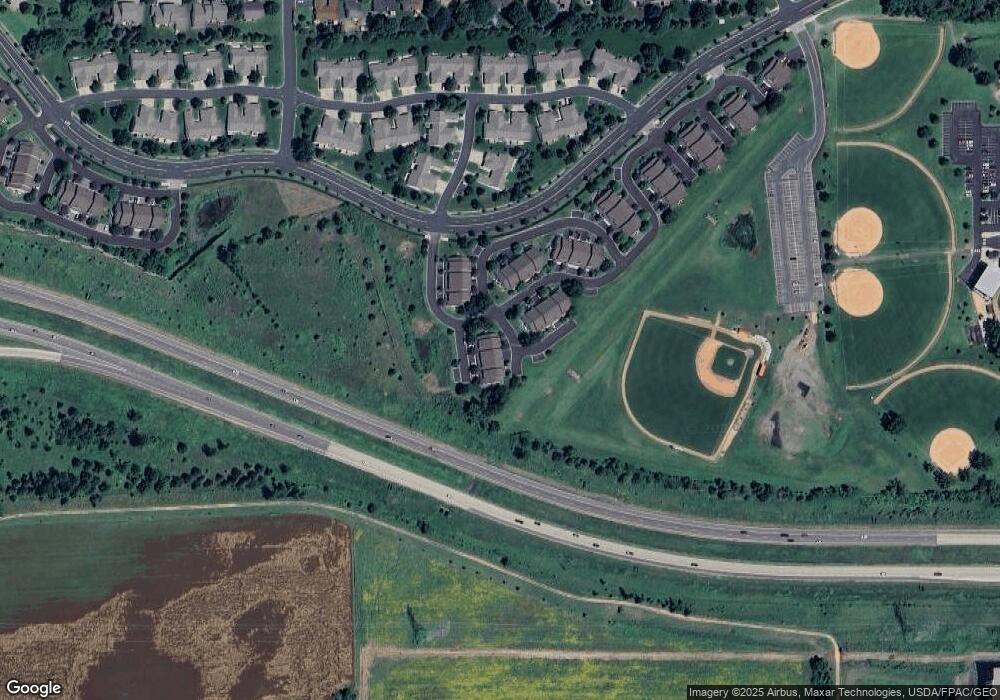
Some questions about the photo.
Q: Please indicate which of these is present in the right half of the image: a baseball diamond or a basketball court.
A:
baseball diamond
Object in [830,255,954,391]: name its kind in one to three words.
baseball field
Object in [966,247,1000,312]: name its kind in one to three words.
building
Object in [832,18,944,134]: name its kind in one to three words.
baseball field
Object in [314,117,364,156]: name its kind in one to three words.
house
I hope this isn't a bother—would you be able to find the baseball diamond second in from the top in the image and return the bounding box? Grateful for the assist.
[832,141,957,257]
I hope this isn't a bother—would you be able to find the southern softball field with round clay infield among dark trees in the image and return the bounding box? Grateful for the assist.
[874,364,1000,475]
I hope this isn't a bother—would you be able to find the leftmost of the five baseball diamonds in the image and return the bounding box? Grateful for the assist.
[622,310,771,461]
